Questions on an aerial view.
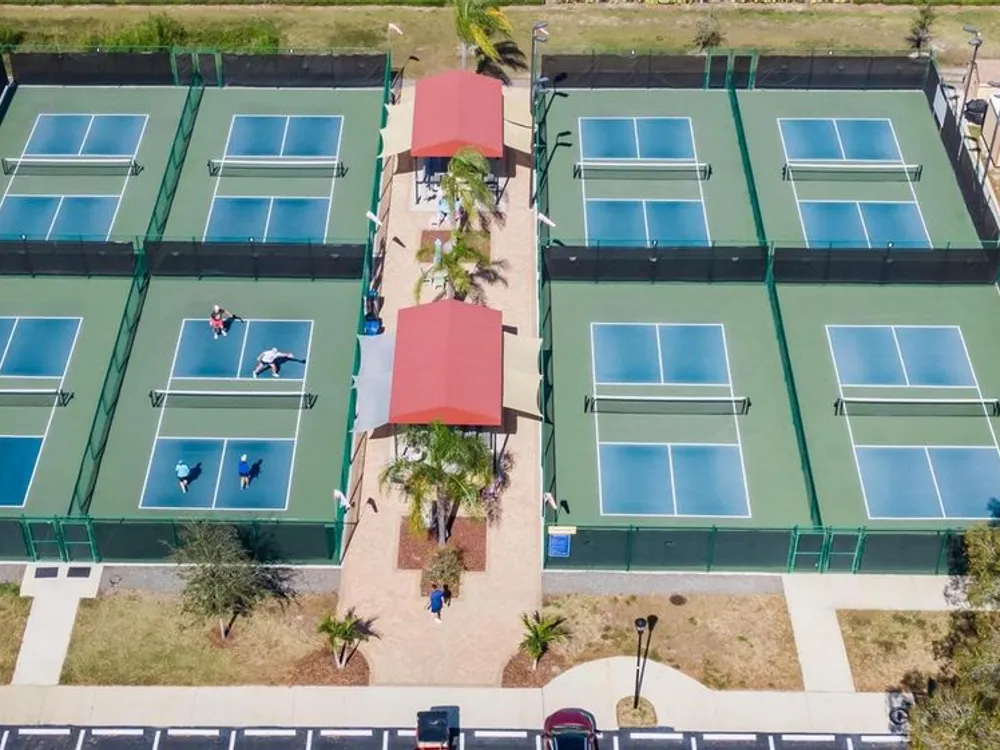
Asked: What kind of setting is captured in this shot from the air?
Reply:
sports ground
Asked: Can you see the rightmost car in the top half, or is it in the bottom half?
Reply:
bottom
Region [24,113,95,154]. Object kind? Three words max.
sports court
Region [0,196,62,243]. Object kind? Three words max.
sports court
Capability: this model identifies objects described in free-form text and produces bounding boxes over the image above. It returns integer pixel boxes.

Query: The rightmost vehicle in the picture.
[540,710,604,750]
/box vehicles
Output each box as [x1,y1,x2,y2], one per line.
[540,710,604,750]
[416,711,452,750]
